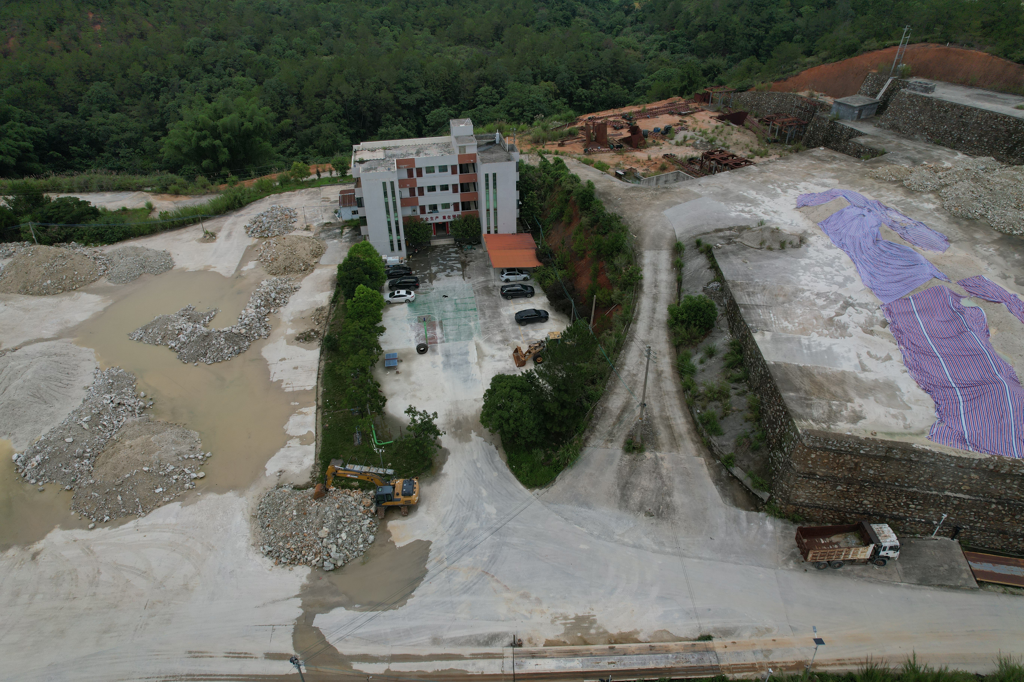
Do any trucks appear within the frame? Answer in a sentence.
Yes, the frame does contain a truck.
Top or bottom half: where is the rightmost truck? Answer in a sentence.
The bottom half of the photo is where the rightmost truck is.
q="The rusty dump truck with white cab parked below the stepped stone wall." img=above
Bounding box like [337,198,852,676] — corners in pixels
[797,525,906,570]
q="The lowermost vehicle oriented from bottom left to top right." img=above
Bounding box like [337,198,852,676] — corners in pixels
[518,337,561,368]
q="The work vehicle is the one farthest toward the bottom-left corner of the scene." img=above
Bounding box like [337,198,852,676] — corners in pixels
[314,462,422,519]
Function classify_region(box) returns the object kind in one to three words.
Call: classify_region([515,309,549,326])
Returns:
car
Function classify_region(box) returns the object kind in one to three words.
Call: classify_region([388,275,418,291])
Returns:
car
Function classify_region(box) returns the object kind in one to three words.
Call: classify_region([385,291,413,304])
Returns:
vehicle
